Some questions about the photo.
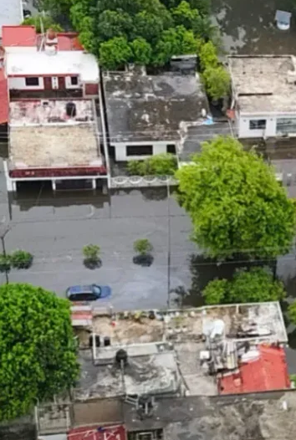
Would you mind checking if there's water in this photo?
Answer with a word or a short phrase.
Yes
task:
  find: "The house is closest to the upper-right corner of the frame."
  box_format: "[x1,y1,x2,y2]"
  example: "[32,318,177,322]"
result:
[227,53,296,140]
